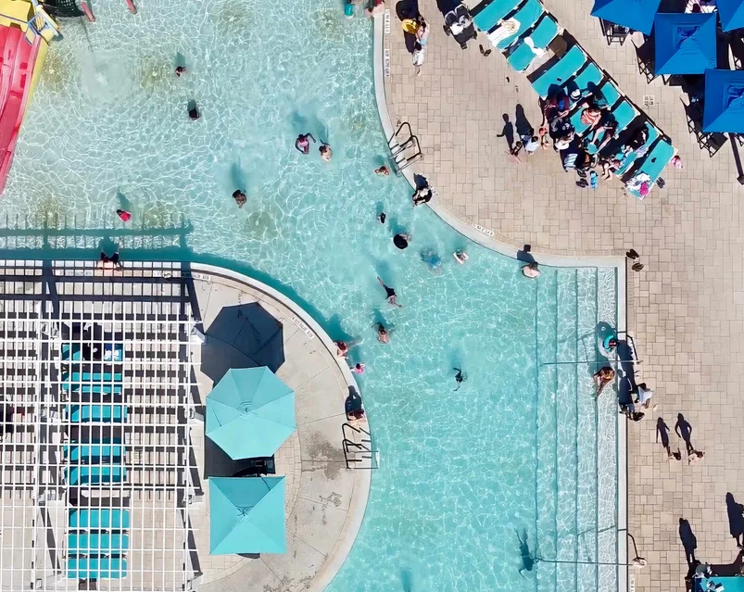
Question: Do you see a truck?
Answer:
No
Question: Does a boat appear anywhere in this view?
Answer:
No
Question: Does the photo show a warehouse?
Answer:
No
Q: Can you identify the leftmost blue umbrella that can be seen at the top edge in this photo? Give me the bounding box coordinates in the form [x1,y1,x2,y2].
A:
[581,0,659,45]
